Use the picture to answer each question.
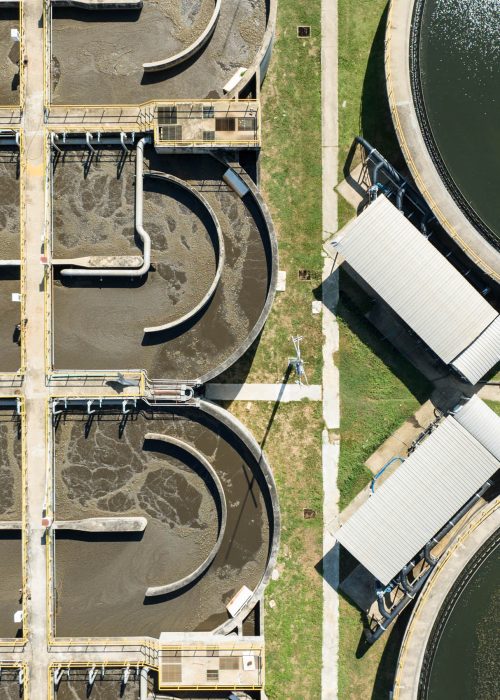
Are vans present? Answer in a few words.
No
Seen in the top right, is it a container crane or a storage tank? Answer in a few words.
storage tank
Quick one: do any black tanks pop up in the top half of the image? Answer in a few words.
No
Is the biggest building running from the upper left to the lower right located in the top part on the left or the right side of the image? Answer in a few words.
right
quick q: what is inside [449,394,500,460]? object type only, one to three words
building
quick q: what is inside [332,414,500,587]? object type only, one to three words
building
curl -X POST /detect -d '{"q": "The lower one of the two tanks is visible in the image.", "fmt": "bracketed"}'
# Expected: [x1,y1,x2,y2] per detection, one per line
[392,496,500,700]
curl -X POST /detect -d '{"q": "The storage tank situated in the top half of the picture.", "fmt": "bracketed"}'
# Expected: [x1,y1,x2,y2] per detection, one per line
[384,0,500,285]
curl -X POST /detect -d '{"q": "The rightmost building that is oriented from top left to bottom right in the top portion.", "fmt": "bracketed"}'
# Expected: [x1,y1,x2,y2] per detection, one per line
[334,194,499,364]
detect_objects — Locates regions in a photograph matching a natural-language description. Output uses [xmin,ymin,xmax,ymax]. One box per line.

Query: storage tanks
[384,0,500,285]
[392,496,500,700]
